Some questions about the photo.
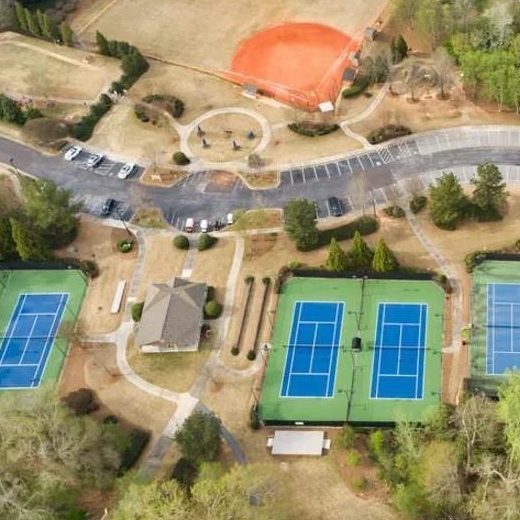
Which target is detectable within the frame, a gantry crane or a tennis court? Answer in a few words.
tennis court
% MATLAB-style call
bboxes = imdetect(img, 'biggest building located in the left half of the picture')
[133,271,214,353]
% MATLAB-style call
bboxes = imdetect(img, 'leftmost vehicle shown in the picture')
[65,146,82,160]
